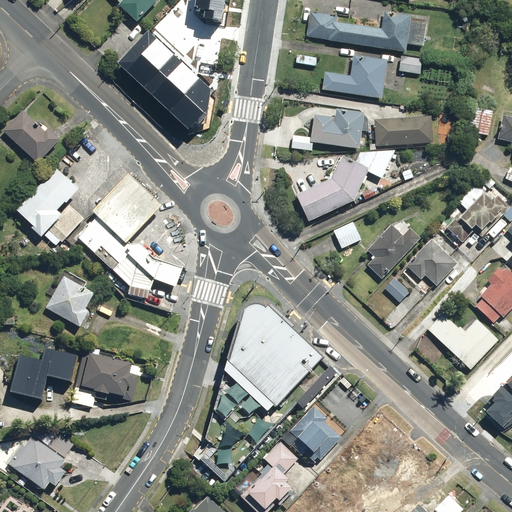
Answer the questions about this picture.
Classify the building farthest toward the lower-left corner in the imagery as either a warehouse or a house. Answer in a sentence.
It turns out the building farthest toward the lower-left corner is a house.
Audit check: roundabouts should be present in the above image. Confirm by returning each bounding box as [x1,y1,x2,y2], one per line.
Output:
[200,193,240,234]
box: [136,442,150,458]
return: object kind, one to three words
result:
vehicle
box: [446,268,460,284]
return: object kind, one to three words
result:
vehicle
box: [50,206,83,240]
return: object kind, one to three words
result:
shed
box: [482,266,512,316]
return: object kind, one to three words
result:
house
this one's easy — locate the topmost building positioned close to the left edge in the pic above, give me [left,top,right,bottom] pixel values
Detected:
[4,110,56,162]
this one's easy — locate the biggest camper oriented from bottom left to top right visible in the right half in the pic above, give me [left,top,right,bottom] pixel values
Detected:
[488,218,507,238]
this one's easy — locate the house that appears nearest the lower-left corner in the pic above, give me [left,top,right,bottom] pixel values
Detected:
[8,434,66,491]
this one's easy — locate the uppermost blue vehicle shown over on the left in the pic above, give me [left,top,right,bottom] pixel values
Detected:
[81,138,96,154]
